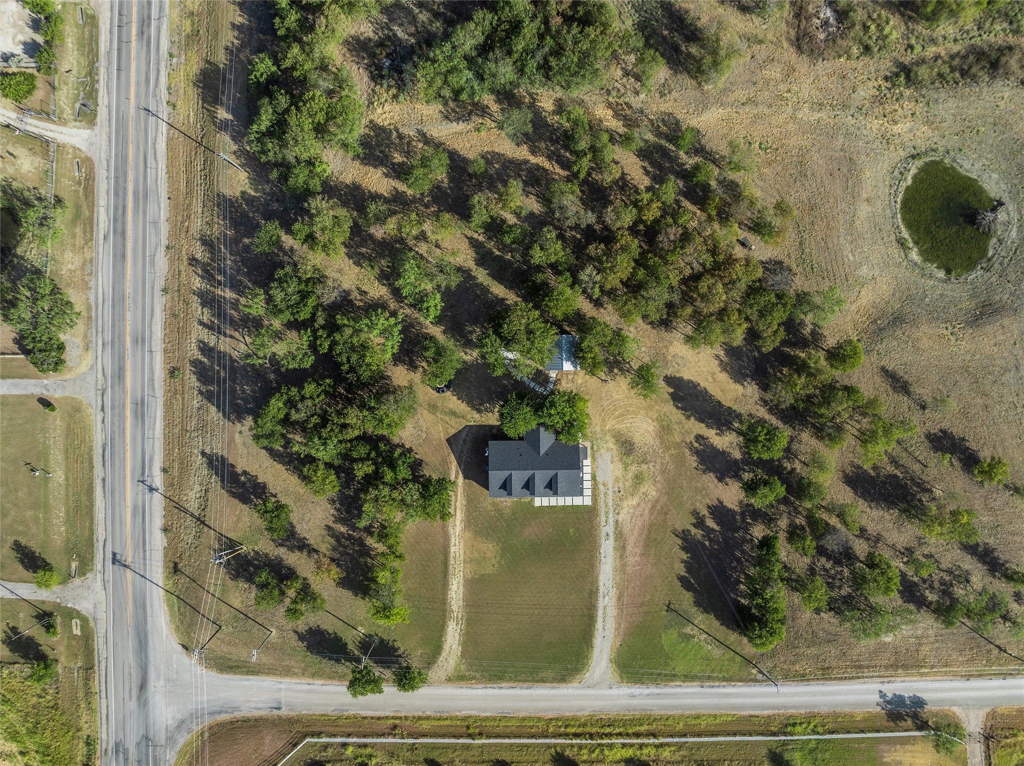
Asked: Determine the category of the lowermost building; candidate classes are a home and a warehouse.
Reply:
home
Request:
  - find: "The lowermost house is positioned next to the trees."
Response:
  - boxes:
[489,422,587,498]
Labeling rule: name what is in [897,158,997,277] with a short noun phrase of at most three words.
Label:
pond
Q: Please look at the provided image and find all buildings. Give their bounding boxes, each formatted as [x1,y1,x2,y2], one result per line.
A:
[489,422,587,498]
[545,335,581,370]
